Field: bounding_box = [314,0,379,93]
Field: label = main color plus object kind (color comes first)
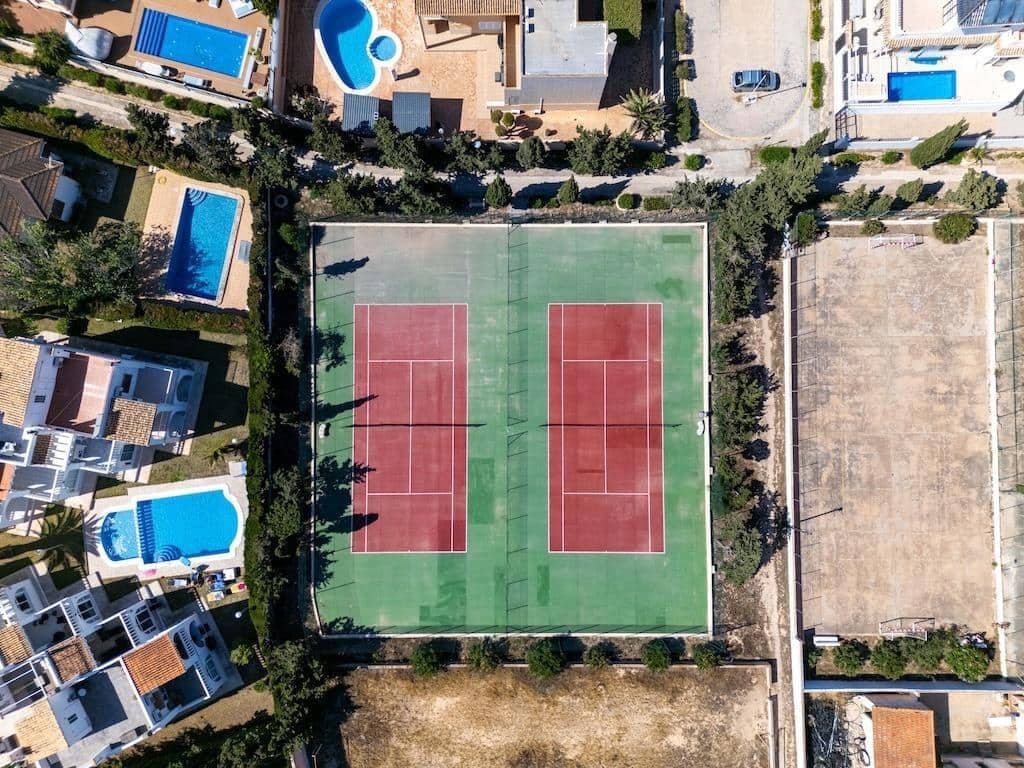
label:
blue swimming pool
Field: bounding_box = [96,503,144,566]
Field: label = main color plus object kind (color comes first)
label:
blue swimming pool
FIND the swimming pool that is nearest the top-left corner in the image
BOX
[133,6,252,78]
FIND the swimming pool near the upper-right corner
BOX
[884,66,960,104]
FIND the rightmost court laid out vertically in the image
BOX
[1000,224,1024,678]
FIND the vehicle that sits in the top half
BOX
[732,68,778,93]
